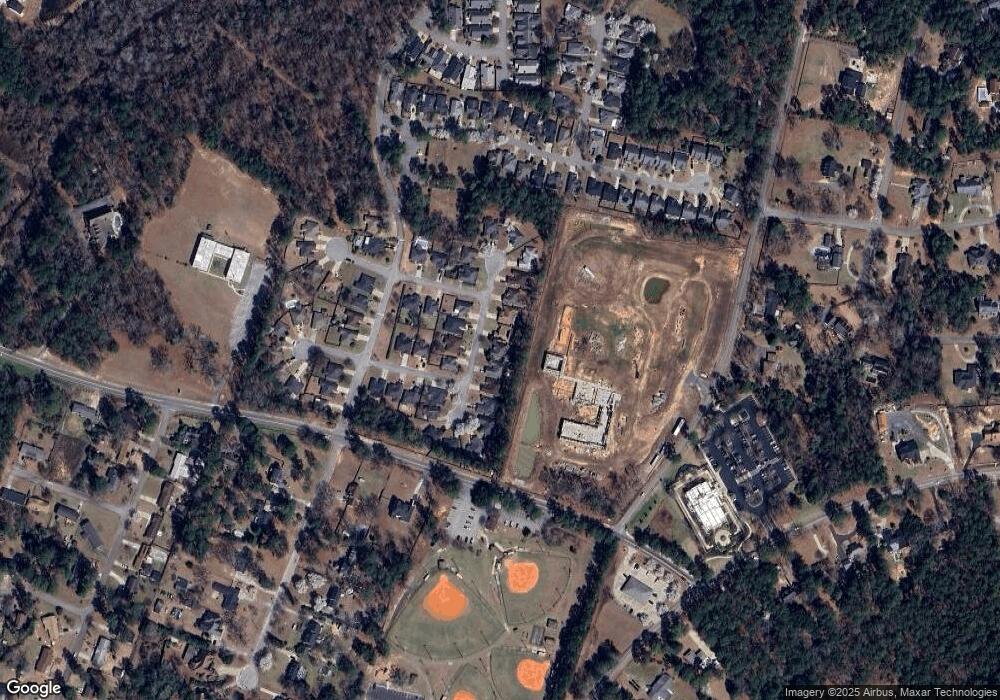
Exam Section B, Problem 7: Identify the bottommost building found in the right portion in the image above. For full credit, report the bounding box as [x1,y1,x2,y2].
[646,672,674,700]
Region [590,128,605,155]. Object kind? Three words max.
house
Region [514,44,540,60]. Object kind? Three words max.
house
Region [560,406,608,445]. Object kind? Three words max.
building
